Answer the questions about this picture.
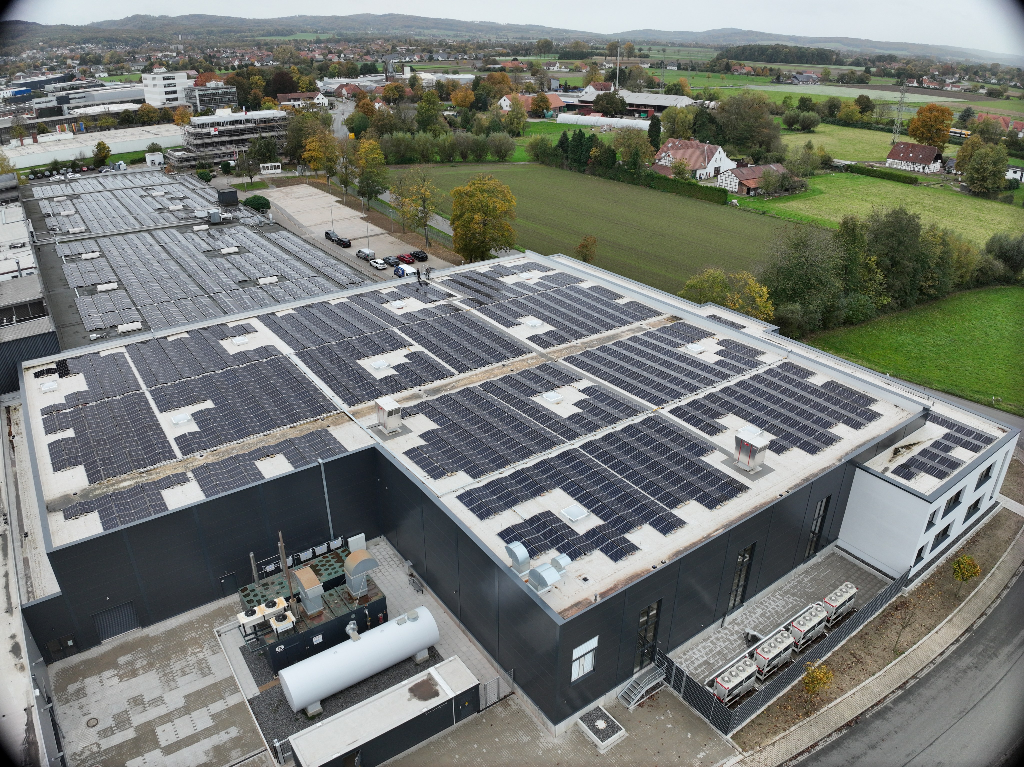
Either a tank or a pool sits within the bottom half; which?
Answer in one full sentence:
You can see a tank within the bottom half.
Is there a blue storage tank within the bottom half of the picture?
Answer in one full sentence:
No, no blue storage tank can be made out within the bottom half of the picture.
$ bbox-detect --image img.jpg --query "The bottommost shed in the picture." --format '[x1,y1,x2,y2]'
[288,655,483,767]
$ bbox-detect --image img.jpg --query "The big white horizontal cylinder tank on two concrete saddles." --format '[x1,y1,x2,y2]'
[273,593,442,708]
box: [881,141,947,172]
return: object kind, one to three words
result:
house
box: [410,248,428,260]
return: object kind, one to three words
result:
vehicle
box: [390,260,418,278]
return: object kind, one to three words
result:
vehicle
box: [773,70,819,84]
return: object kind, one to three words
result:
house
